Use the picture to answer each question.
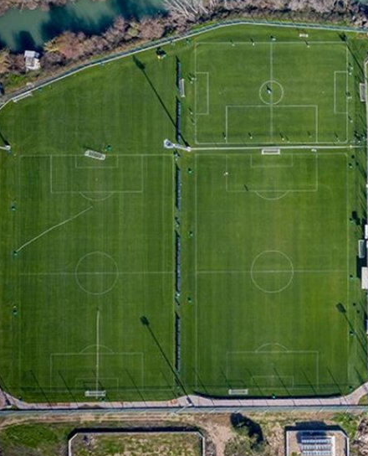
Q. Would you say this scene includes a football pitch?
Yes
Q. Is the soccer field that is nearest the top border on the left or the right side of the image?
right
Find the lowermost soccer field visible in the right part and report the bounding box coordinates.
[193,151,350,391]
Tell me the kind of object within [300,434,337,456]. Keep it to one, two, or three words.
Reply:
building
